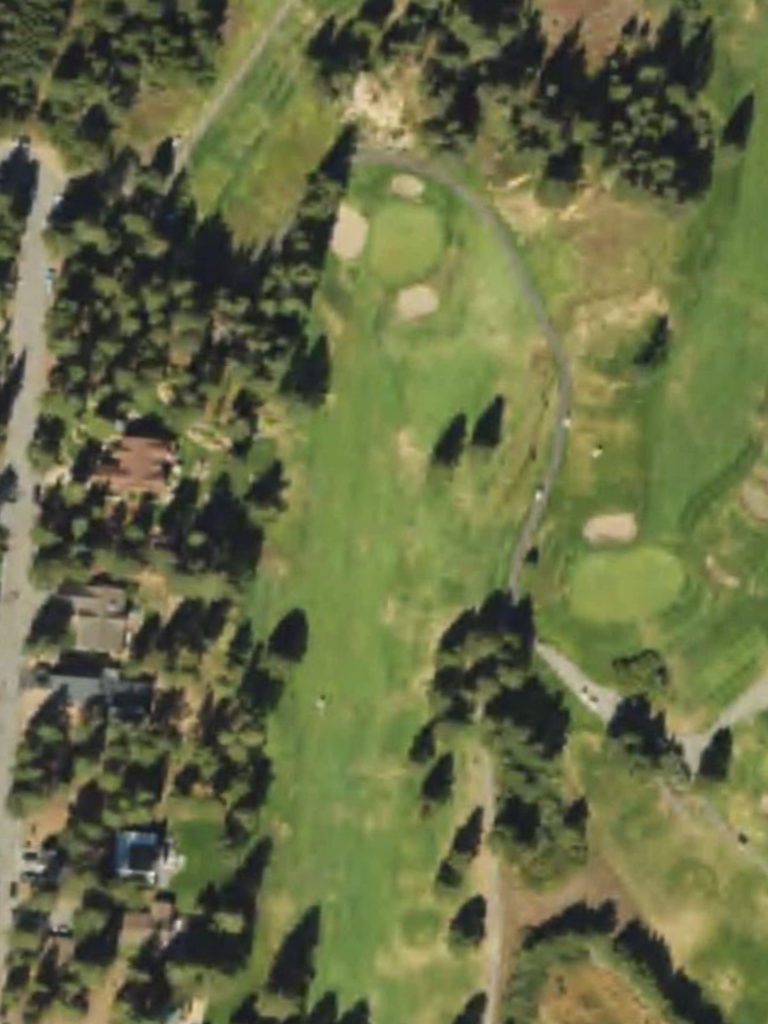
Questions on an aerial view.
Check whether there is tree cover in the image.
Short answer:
Yes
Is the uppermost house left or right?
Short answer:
left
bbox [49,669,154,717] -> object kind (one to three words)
house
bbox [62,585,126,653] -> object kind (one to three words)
house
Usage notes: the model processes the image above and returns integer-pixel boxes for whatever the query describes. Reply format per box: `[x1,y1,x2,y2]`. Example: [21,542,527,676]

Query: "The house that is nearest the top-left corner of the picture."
[96,435,176,494]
